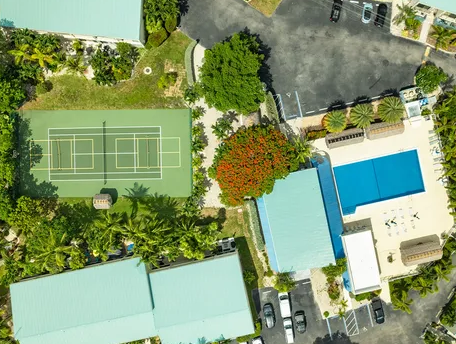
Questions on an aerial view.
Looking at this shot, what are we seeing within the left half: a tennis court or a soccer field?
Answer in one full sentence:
The feature located within the left half is a tennis court.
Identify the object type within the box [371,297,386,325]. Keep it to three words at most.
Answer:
vehicle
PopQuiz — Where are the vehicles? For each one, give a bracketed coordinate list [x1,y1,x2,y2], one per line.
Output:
[284,318,297,344]
[371,297,386,325]
[295,310,306,333]
[374,2,389,28]
[329,0,343,23]
[253,336,263,344]
[263,303,275,329]
[279,293,291,320]
[362,3,373,24]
